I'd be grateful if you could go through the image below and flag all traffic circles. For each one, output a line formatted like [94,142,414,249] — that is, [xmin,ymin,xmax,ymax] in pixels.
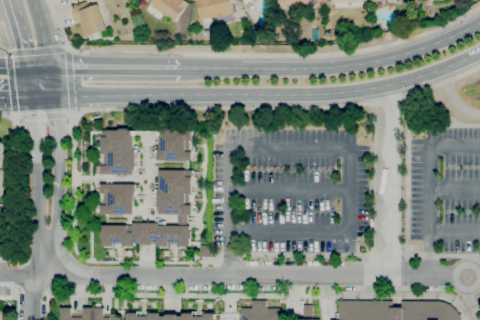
[452,262,480,294]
